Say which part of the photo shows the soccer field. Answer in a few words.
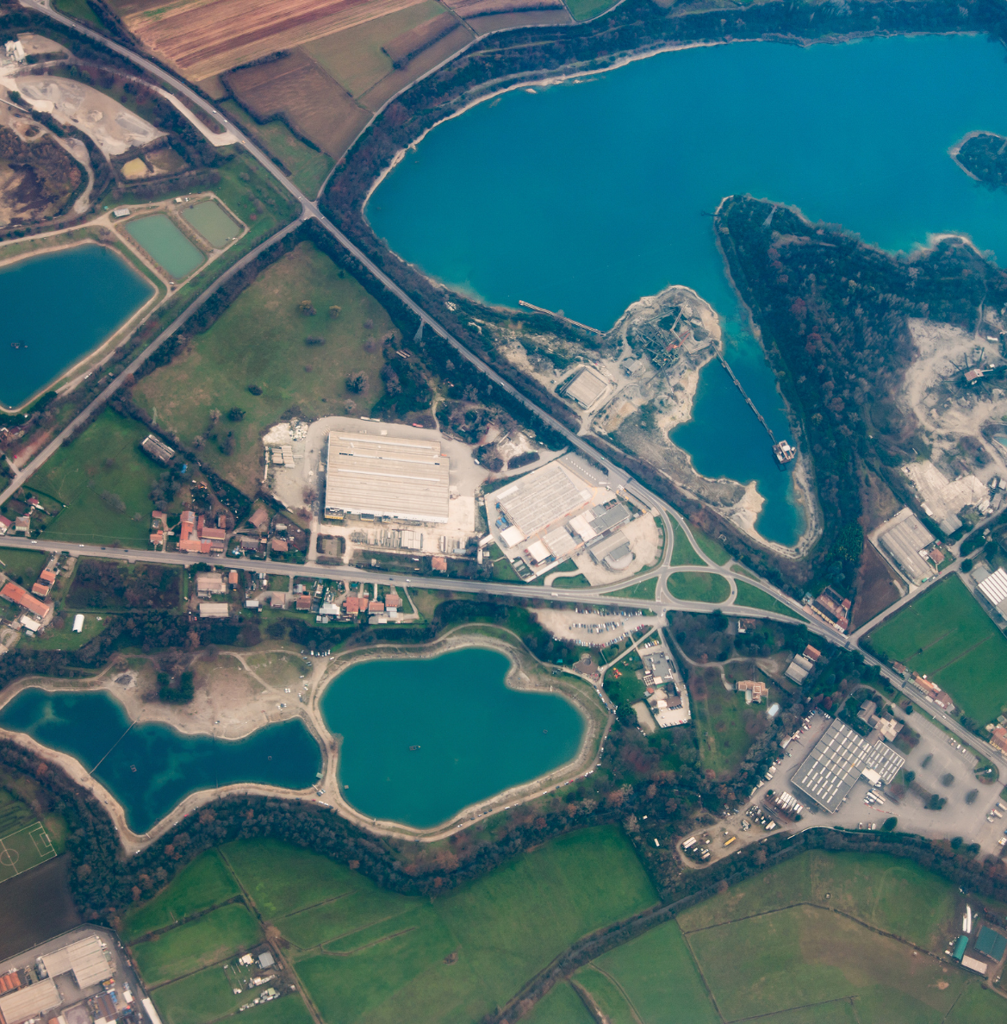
bottom left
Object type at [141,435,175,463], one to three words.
barn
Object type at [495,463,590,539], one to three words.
building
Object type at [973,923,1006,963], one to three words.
shed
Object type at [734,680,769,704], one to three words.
house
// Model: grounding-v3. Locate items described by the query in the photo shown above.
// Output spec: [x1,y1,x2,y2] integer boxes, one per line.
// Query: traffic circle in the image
[656,566,737,609]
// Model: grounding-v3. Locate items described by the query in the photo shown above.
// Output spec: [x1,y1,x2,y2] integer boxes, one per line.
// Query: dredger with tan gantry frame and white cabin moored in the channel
[771,440,796,471]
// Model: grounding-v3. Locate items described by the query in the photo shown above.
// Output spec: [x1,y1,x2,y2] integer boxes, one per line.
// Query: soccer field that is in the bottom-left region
[0,817,59,885]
